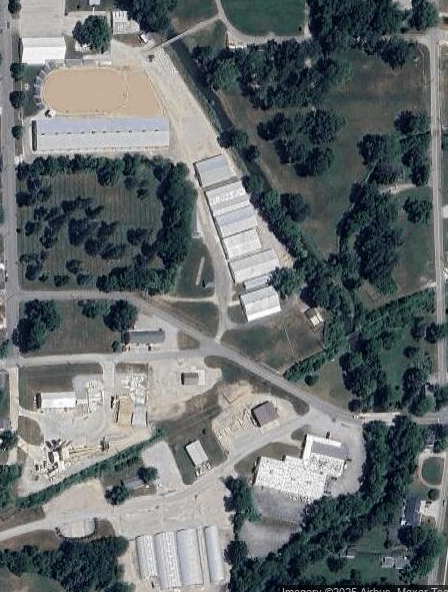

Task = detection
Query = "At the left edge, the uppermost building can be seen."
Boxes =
[21,38,64,63]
